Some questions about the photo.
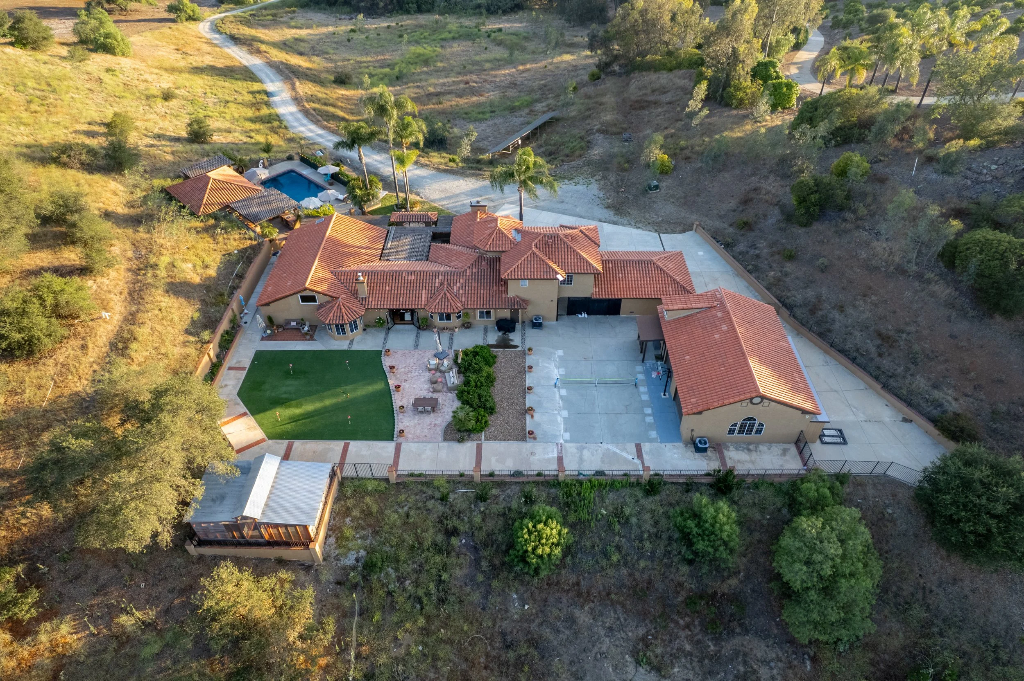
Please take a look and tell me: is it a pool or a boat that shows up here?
pool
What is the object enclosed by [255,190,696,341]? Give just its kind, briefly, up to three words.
house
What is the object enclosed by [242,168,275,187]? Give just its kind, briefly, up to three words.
umbrella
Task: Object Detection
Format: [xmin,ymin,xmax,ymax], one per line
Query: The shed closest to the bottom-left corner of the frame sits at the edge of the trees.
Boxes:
[186,450,335,544]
